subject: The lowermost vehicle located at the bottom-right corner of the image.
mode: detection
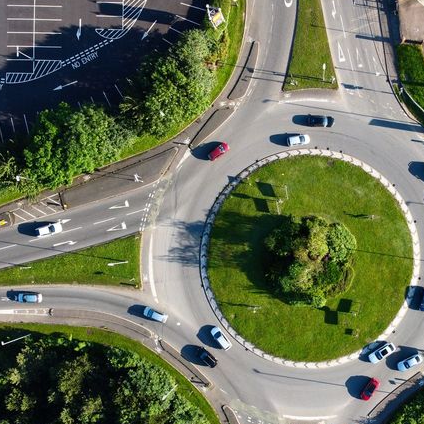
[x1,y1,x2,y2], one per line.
[360,377,380,401]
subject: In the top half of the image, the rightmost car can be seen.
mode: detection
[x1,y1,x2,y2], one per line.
[307,113,334,127]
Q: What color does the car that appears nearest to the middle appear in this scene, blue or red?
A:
red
